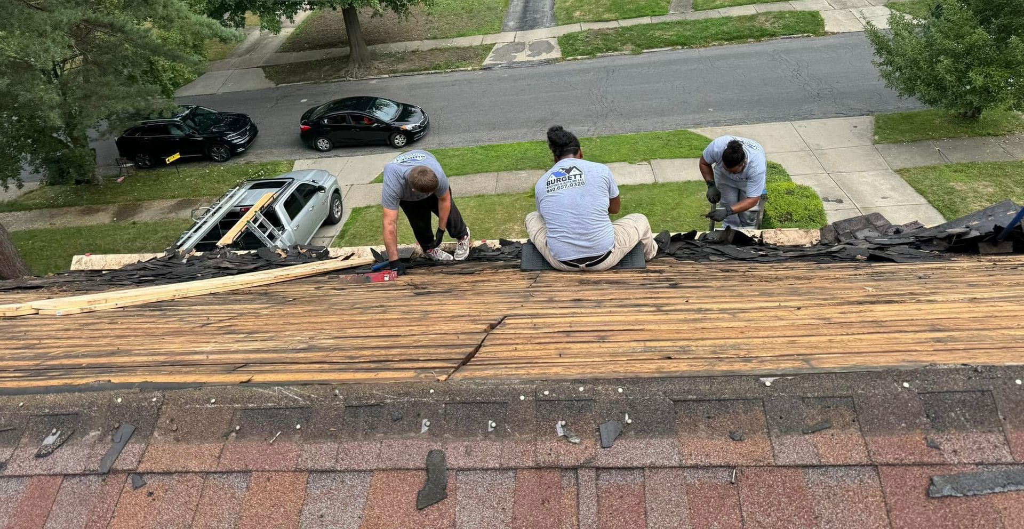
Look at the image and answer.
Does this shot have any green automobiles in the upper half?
No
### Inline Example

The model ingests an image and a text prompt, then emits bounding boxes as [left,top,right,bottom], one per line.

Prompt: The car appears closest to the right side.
[295,94,429,152]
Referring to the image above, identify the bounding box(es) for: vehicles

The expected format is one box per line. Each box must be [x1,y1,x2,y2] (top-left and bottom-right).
[105,98,257,169]
[295,94,429,152]
[203,170,347,249]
